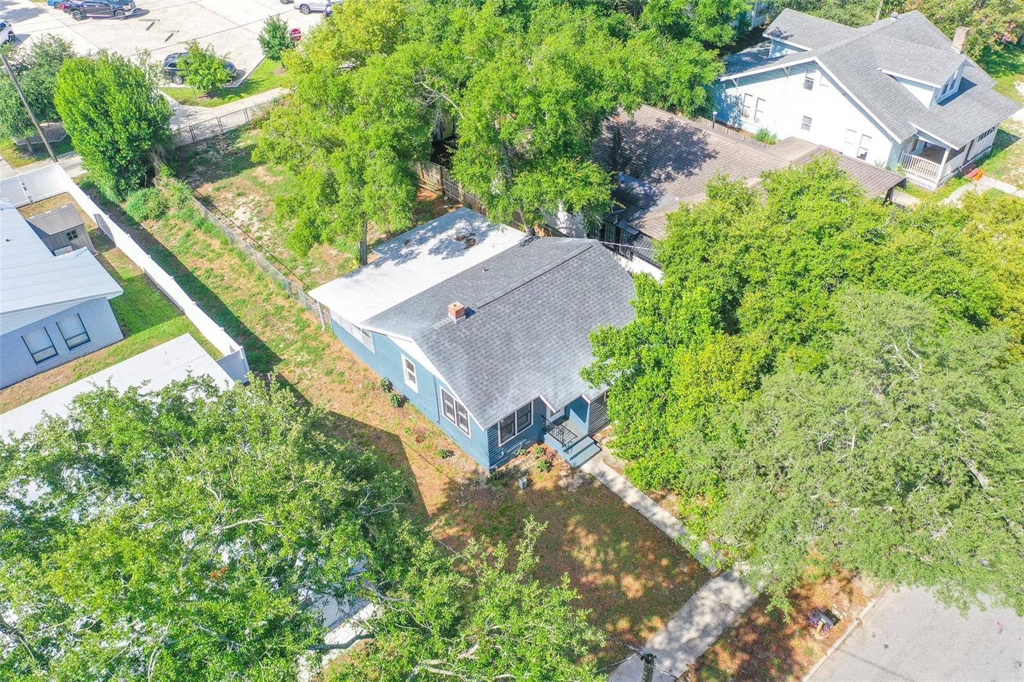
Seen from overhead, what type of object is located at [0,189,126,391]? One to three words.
house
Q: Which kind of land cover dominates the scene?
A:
trees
